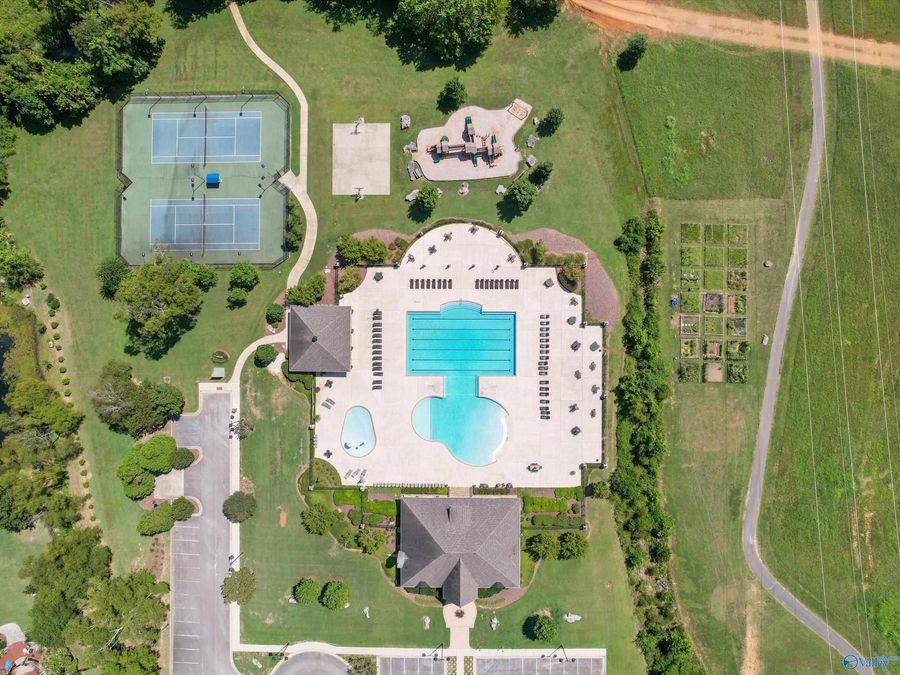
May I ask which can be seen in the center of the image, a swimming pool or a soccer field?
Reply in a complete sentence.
The one visible in the center of the image is a swimming pool.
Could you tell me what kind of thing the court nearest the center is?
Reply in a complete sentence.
Looking closely, the court nearest the center is a basketball court.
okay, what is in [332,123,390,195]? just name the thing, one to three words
basketball court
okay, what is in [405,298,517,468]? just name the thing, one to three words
swimming pool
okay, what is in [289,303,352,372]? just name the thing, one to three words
building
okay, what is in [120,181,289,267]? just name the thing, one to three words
tennis court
